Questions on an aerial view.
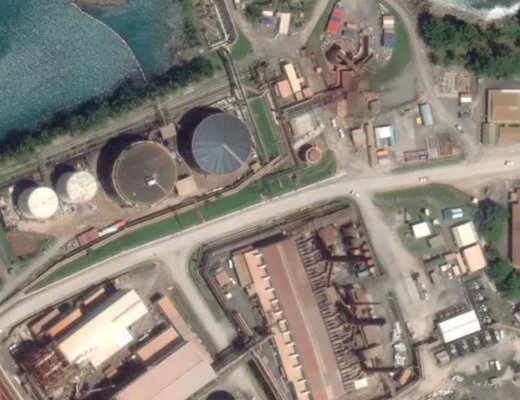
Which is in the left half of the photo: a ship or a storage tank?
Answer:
storage tank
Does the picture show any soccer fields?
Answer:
No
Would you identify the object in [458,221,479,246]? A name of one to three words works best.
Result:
building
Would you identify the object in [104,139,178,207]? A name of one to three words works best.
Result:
storage tank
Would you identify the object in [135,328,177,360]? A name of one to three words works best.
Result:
shed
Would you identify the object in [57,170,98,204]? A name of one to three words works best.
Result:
storage tank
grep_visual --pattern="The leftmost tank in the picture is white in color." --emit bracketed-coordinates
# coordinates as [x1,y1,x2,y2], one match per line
[18,185,59,220]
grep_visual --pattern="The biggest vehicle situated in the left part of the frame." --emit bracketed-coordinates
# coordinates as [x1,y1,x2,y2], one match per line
[98,220,126,237]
